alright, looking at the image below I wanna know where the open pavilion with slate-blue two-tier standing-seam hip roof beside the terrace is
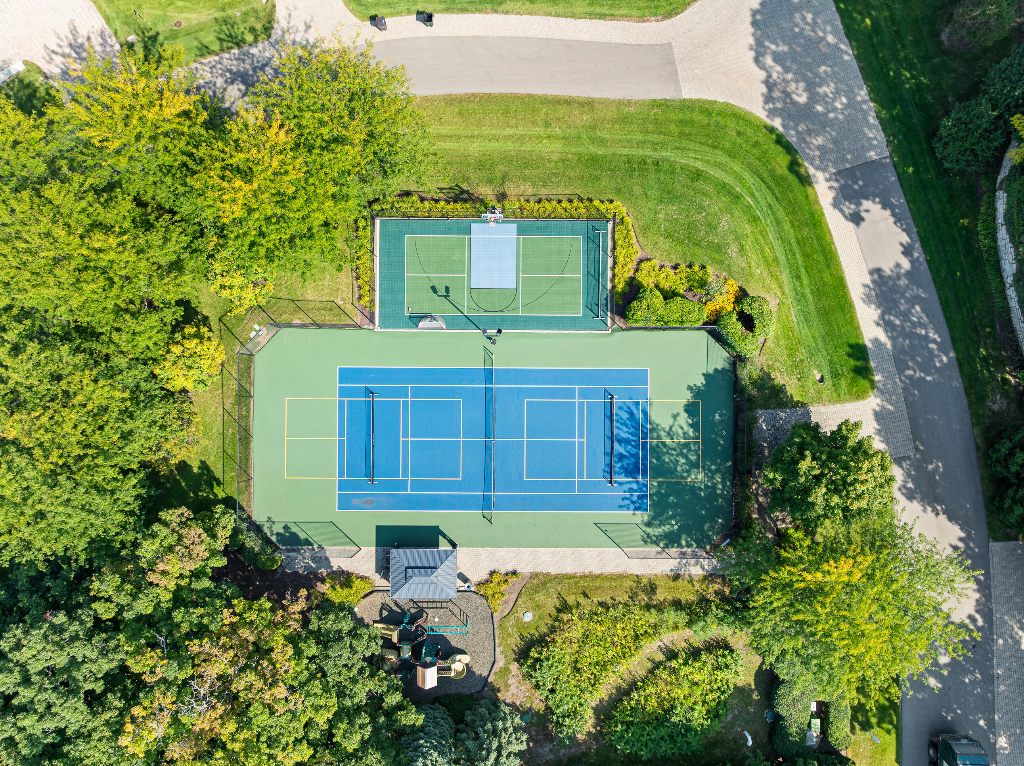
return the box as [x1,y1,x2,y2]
[390,542,459,599]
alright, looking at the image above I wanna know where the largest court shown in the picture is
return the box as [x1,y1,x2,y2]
[253,330,734,549]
